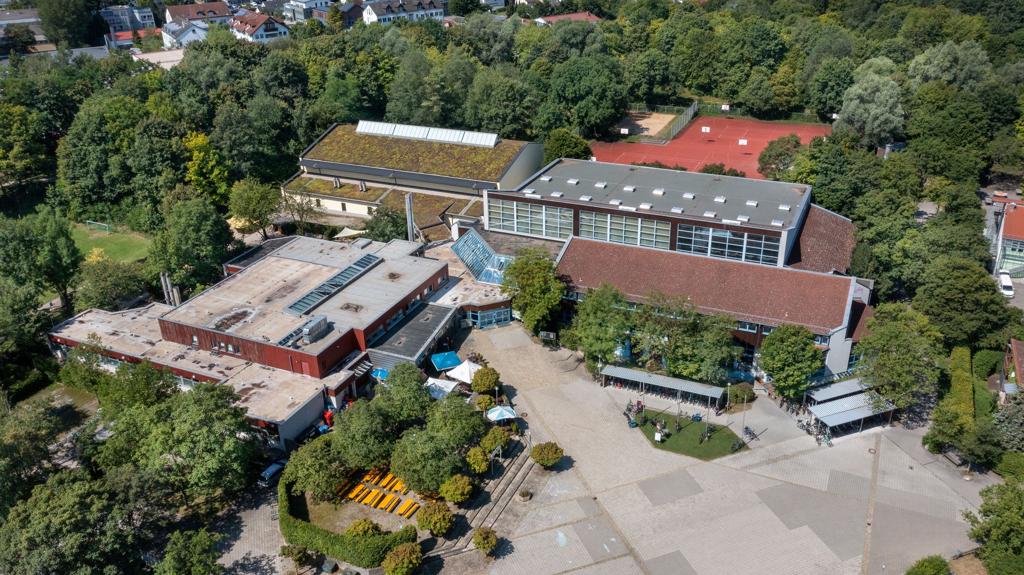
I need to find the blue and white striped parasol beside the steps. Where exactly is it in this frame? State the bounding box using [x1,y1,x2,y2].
[483,406,518,430]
